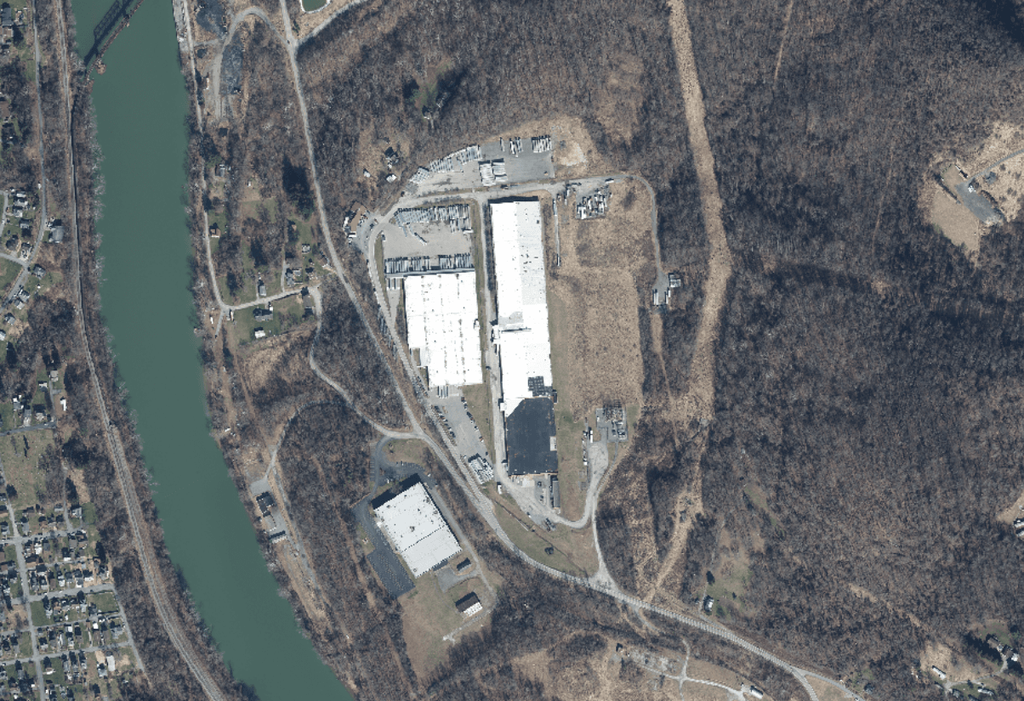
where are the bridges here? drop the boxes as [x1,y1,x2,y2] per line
[83,0,142,85]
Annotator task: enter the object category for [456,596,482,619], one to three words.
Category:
barn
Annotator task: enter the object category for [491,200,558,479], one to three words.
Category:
building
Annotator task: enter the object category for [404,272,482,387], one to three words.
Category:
building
